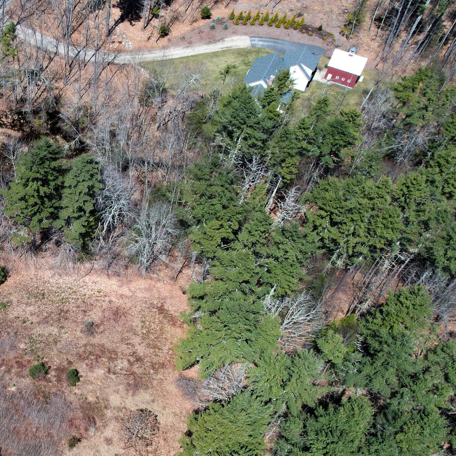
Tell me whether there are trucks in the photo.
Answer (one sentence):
No, the scene contains no truck.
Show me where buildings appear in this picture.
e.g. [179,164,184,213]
[323,47,368,90]
[241,45,320,115]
